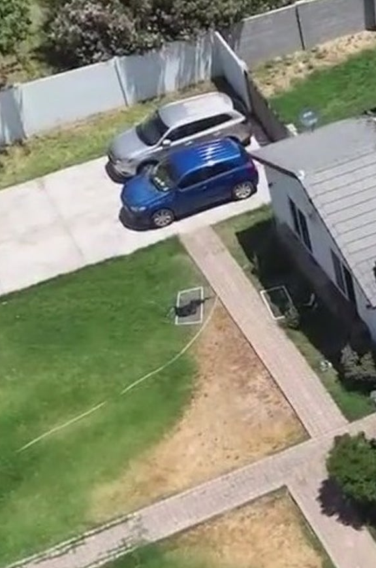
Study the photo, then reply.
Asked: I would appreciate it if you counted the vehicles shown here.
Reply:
two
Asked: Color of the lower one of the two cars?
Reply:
blue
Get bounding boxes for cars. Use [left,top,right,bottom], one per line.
[115,135,261,226]
[100,83,255,180]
